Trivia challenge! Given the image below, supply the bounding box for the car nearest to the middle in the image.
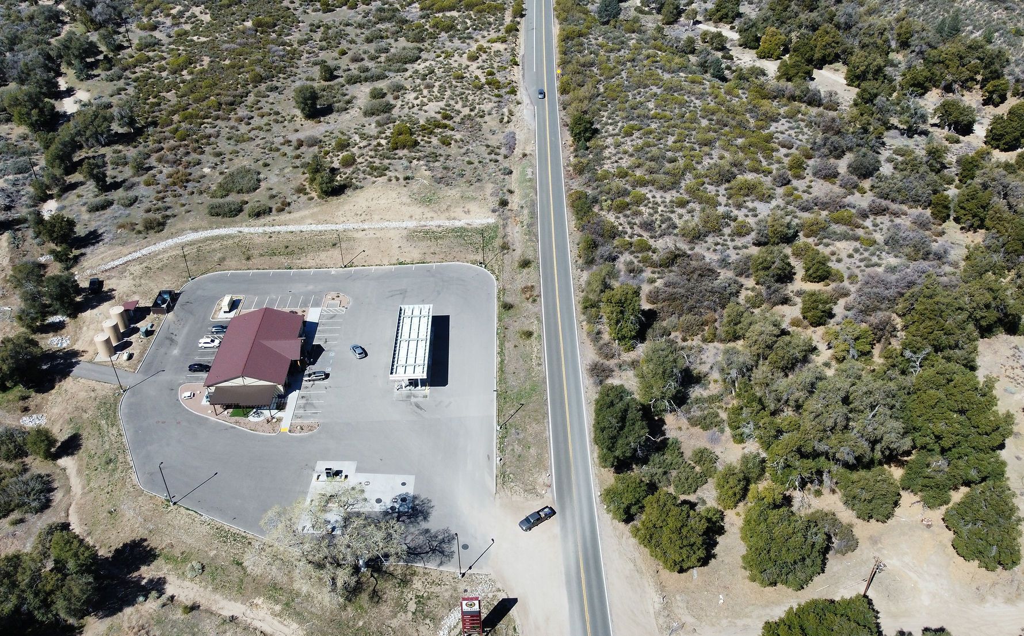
[348,345,367,359]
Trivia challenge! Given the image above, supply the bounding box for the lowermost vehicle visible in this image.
[519,504,557,531]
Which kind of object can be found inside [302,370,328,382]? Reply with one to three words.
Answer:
vehicle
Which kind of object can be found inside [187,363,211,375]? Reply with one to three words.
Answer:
vehicle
